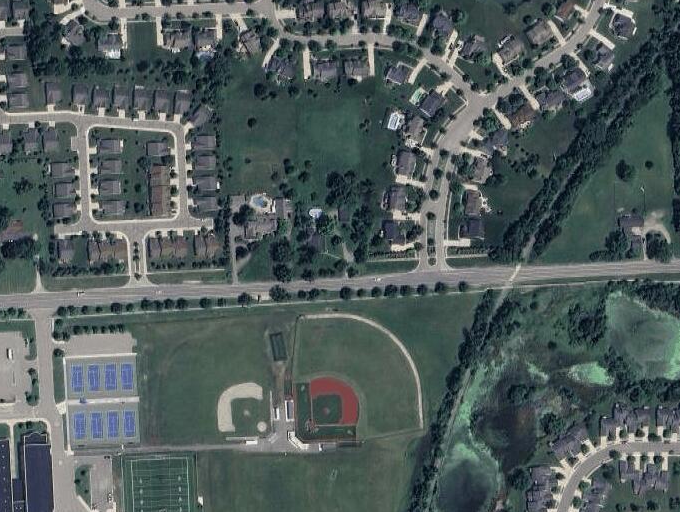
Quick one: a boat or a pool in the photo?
pool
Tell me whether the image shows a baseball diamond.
Yes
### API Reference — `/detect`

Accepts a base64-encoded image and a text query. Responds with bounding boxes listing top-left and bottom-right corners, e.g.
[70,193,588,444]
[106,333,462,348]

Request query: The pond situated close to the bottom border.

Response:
[442,452,494,512]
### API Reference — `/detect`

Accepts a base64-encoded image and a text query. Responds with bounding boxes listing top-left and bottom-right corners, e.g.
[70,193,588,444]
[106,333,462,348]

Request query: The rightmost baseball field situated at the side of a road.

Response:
[296,314,424,441]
